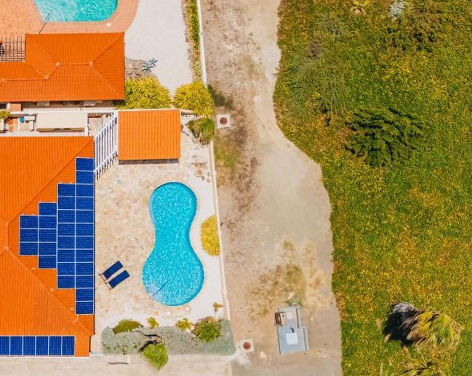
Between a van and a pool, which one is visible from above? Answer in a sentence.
This aerial view contains a pool.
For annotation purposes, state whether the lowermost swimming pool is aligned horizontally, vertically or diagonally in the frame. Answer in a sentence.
What the image shows is the lowermost swimming pool lying vertically.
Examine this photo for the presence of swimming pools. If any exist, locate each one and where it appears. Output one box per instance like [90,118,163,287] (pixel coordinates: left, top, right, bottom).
[143,182,208,306]
[29,0,122,28]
